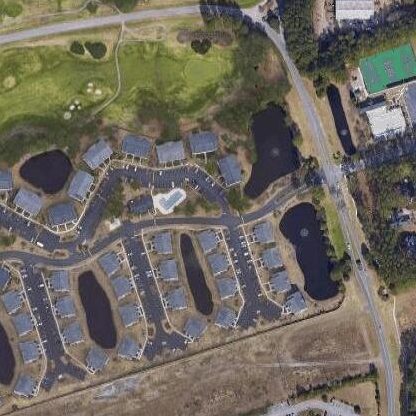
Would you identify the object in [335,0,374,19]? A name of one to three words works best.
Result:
building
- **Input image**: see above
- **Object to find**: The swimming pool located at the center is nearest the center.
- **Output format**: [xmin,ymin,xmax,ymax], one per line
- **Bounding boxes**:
[153,187,186,214]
